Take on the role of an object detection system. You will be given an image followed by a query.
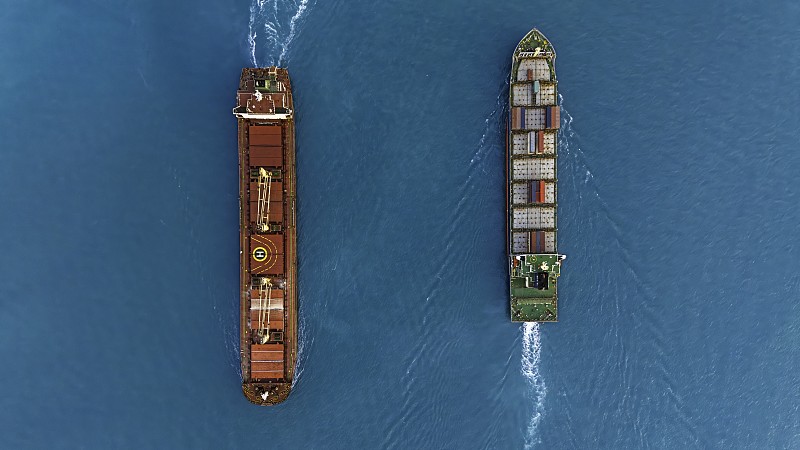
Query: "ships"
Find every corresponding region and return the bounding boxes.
[231,66,297,408]
[506,27,566,323]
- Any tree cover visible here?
No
